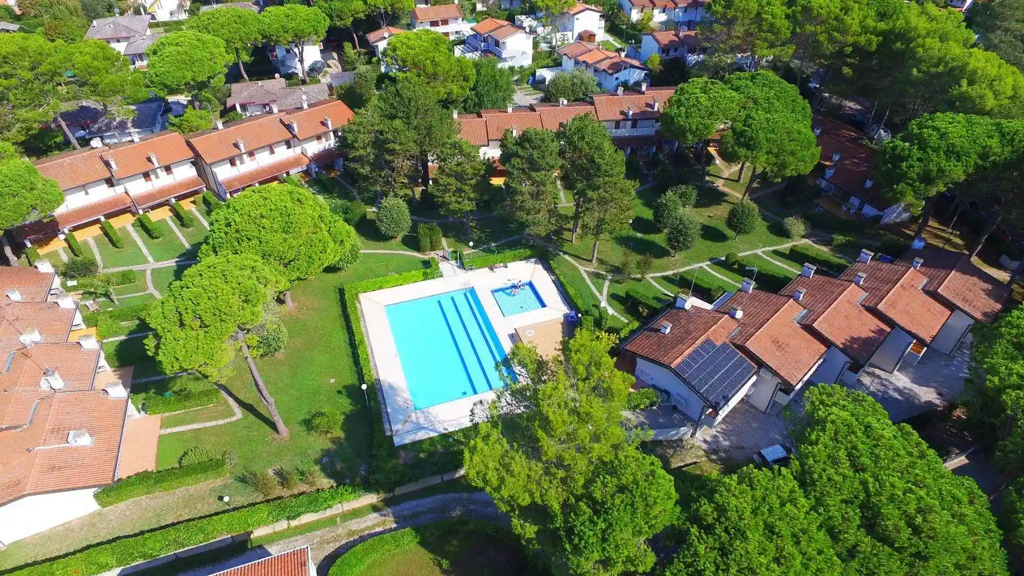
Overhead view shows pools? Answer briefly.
Yes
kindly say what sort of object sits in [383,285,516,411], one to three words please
swimming pool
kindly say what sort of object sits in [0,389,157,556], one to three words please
house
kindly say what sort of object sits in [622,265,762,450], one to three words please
house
